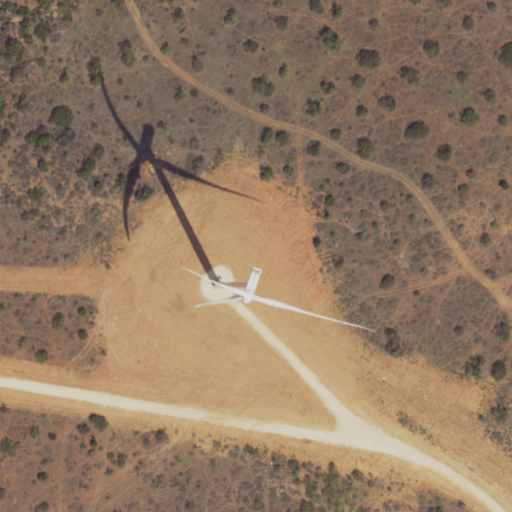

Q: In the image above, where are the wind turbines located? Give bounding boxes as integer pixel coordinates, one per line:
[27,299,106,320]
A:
[193,260,376,334]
